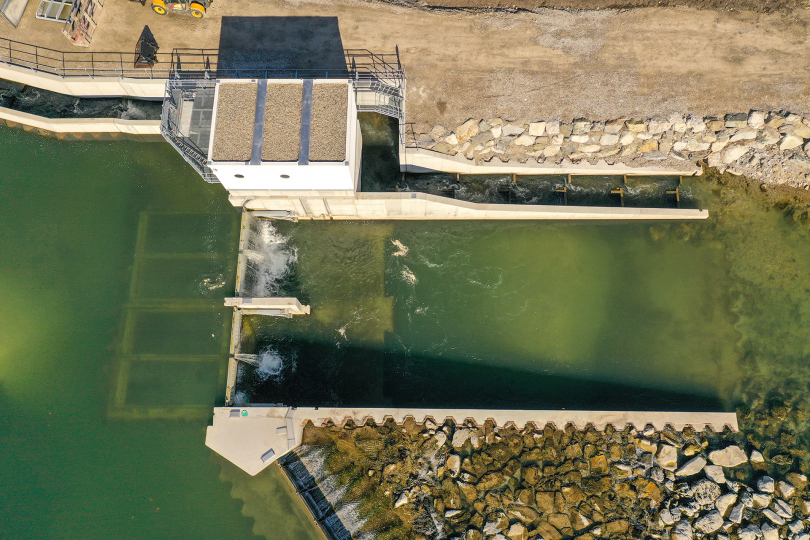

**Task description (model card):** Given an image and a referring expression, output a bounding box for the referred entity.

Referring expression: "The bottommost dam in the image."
[278,448,357,540]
